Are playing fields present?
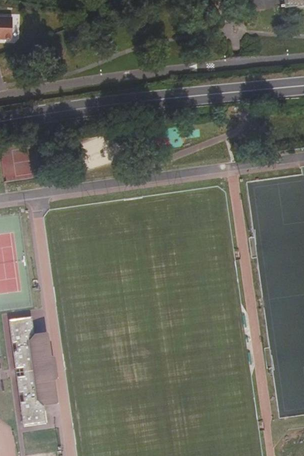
Yes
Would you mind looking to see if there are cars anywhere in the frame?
No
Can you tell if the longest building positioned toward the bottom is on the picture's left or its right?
left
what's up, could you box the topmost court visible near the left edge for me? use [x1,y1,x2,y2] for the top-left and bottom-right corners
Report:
[0,146,34,183]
